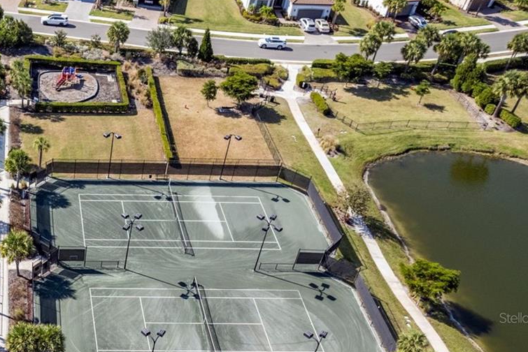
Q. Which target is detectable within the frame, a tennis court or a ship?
tennis court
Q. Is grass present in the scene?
Yes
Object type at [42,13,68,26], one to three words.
vehicle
